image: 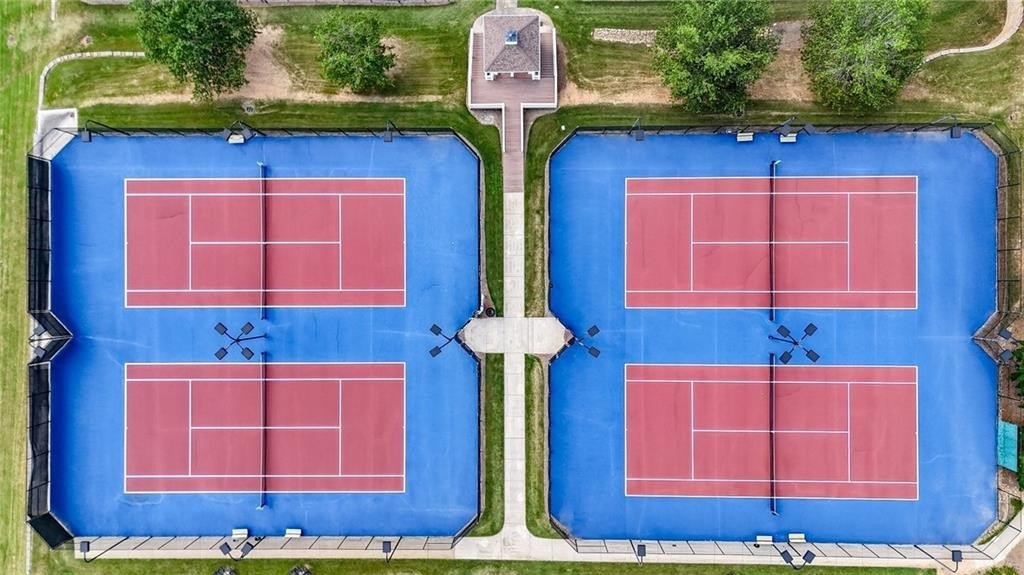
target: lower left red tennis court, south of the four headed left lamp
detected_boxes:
[50,337,480,537]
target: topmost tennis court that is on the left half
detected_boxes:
[51,134,479,337]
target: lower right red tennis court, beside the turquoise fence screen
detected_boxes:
[550,337,999,545]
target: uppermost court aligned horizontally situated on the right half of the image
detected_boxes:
[550,131,999,337]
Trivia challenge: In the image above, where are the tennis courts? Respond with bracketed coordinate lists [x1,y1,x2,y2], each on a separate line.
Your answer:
[50,337,480,537]
[550,131,999,337]
[550,337,999,545]
[51,134,479,337]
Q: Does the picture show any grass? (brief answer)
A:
Yes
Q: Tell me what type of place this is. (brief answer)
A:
sports ground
